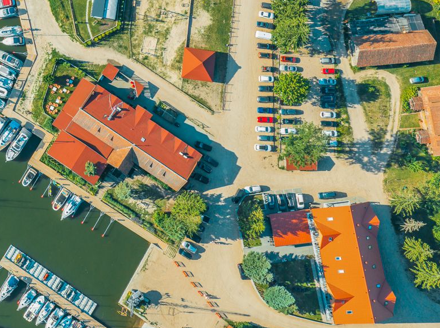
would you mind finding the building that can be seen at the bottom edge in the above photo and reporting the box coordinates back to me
[294,201,401,324]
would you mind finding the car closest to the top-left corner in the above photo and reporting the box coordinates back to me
[193,140,211,152]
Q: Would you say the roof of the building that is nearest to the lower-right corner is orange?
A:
Yes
